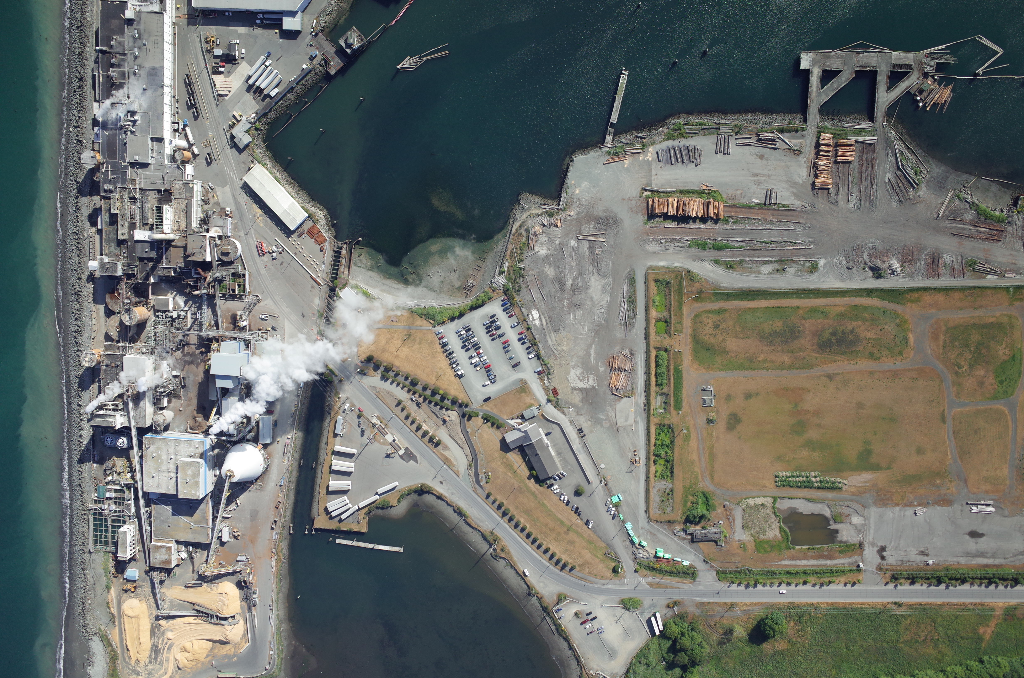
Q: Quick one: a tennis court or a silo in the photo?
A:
silo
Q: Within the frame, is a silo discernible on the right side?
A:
No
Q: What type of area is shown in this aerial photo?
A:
port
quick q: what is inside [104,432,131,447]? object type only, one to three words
cooling tower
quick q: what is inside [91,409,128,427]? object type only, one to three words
building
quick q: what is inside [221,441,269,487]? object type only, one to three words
silo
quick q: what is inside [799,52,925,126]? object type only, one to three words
pier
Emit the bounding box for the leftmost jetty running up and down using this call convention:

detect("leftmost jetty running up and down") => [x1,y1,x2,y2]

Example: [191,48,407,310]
[604,71,628,144]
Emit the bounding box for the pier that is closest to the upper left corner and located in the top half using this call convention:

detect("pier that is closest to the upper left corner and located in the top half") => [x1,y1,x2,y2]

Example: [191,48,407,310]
[311,30,349,75]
